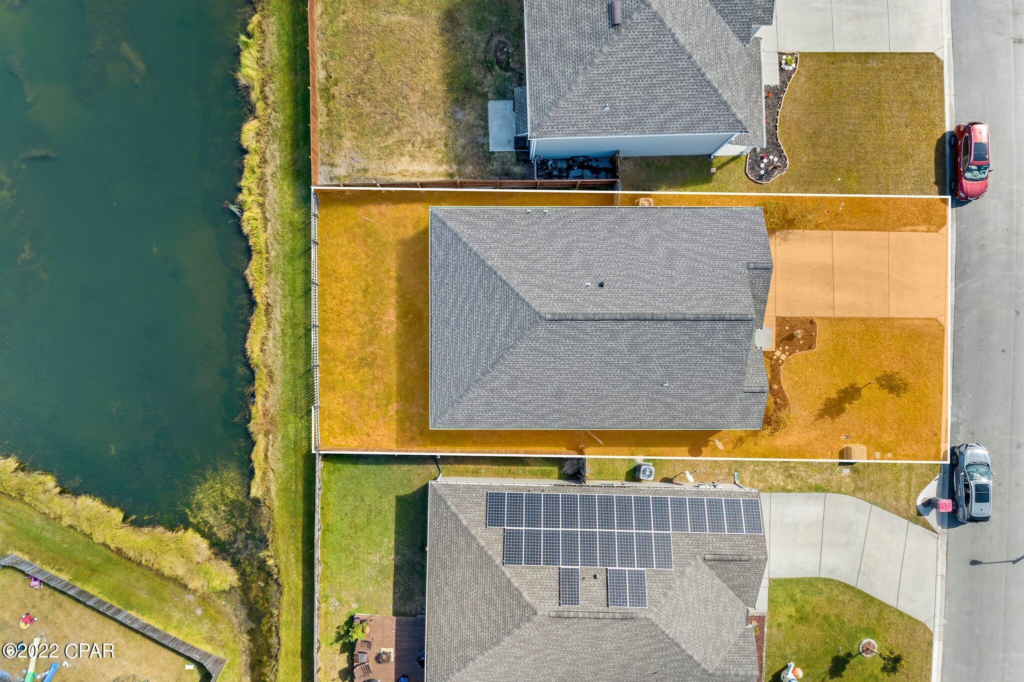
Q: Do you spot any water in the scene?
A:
Yes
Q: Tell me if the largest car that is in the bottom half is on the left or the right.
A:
right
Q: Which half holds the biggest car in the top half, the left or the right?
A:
right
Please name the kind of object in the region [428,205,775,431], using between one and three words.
house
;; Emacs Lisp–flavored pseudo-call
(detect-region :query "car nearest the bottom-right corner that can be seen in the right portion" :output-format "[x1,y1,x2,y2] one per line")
[949,443,995,523]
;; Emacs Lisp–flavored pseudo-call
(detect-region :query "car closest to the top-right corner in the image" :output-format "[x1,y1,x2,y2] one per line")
[949,119,994,200]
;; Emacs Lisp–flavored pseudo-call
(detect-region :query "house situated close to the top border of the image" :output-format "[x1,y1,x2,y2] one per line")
[512,0,777,163]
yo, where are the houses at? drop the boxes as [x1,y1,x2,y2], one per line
[428,205,775,431]
[422,464,772,682]
[512,0,777,163]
